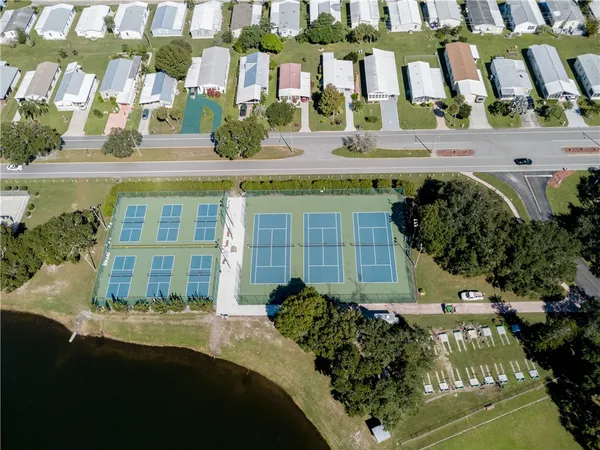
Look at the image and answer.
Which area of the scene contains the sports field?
bottom right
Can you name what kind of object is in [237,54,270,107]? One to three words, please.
house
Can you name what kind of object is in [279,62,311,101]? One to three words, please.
house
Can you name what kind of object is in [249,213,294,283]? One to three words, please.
tennis court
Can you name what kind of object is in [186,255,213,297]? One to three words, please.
sports court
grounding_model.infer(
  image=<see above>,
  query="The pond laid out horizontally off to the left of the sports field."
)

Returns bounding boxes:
[0,309,332,450]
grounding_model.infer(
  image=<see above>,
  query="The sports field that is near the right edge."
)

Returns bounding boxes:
[421,396,584,450]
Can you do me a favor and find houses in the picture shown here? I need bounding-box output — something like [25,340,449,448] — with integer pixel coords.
[279,62,311,101]
[491,60,533,102]
[15,63,61,103]
[35,5,75,37]
[350,0,379,28]
[237,54,270,107]
[465,0,504,31]
[408,62,446,103]
[190,2,224,36]
[75,6,111,37]
[445,43,486,101]
[231,4,261,35]
[0,60,21,103]
[271,1,300,36]
[186,46,229,93]
[575,56,600,101]
[56,63,97,107]
[543,0,587,35]
[141,74,178,108]
[152,2,188,35]
[426,0,462,26]
[323,52,354,95]
[100,56,144,109]
[0,9,36,36]
[504,0,547,30]
[528,46,578,100]
[114,2,148,38]
[387,0,422,30]
[311,0,342,28]
[364,49,400,99]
